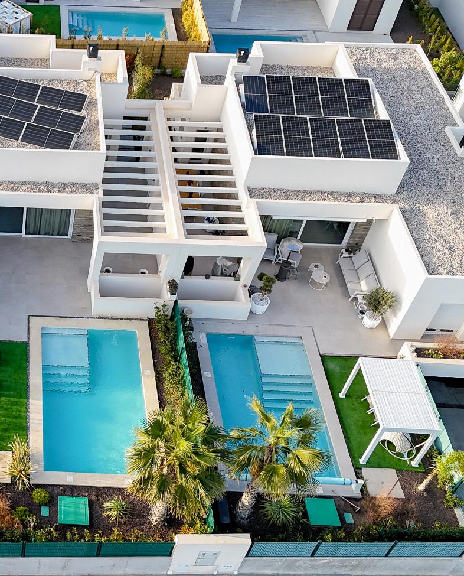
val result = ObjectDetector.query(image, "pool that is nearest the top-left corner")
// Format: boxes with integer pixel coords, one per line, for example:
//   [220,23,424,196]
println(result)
[59,4,179,40]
